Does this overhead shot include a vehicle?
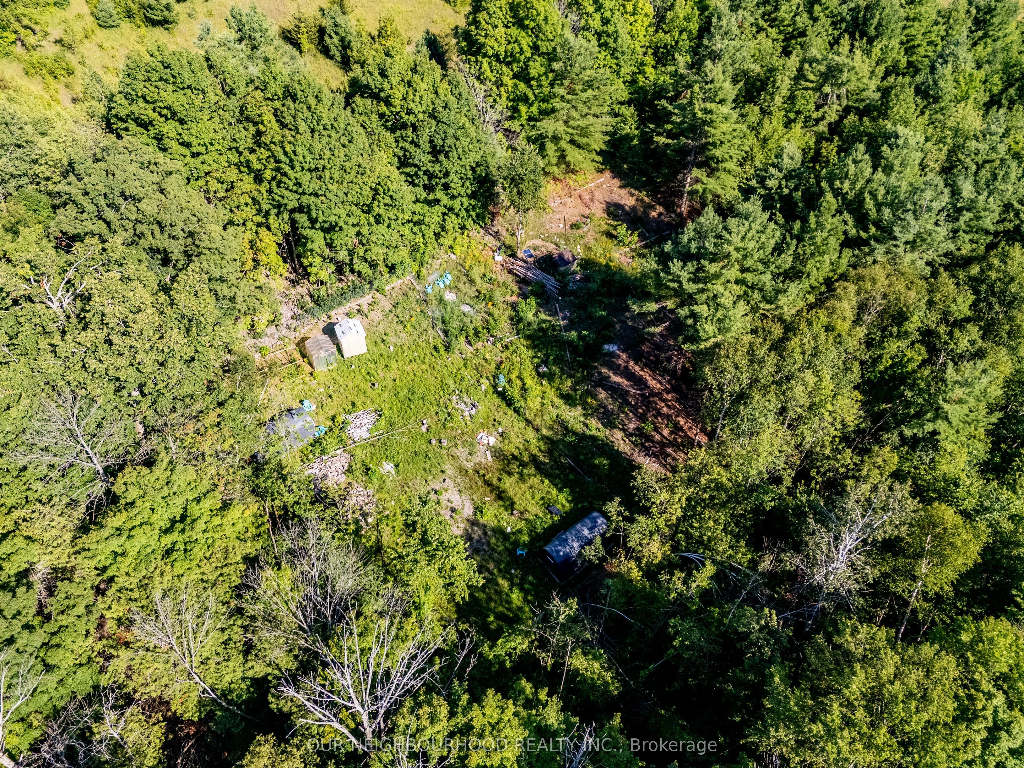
No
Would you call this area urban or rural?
rural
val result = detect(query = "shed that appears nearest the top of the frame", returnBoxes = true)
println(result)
[550,249,579,276]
